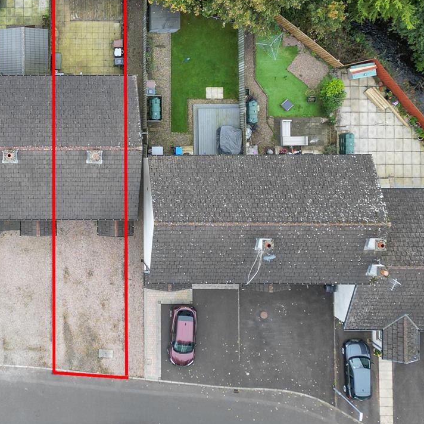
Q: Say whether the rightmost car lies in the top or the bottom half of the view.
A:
bottom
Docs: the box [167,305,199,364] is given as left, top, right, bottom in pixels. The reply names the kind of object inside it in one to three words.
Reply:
car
